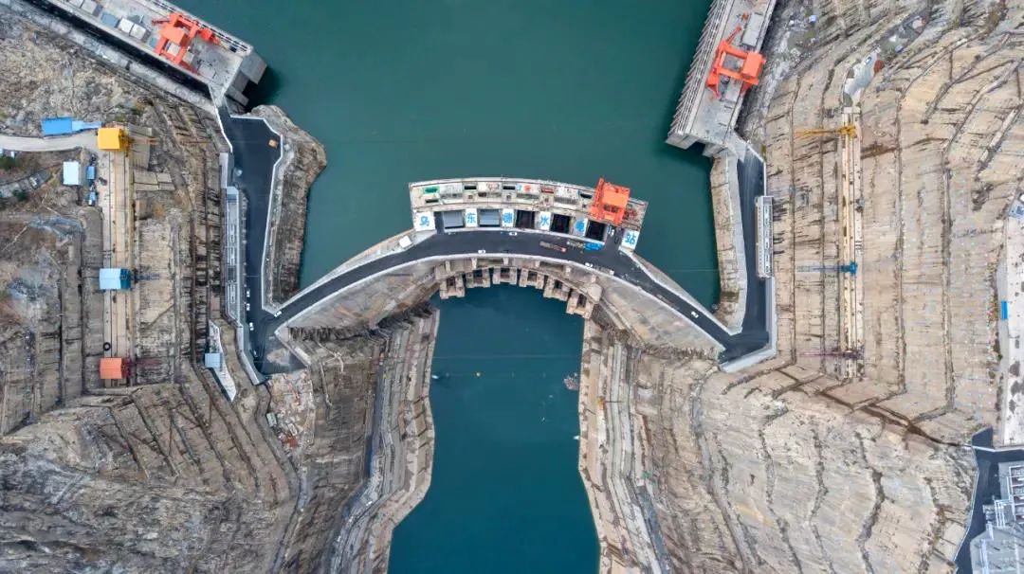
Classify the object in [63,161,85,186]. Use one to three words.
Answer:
shed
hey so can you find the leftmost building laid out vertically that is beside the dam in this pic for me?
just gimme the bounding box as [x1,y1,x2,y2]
[226,181,245,327]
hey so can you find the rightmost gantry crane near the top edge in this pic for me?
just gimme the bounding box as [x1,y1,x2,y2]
[700,26,763,97]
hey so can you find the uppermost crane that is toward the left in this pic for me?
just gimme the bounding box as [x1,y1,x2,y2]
[150,13,228,79]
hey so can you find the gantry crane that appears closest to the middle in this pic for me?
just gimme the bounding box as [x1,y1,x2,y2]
[588,178,631,227]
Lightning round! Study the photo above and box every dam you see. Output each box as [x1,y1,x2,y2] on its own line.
[274,177,732,348]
